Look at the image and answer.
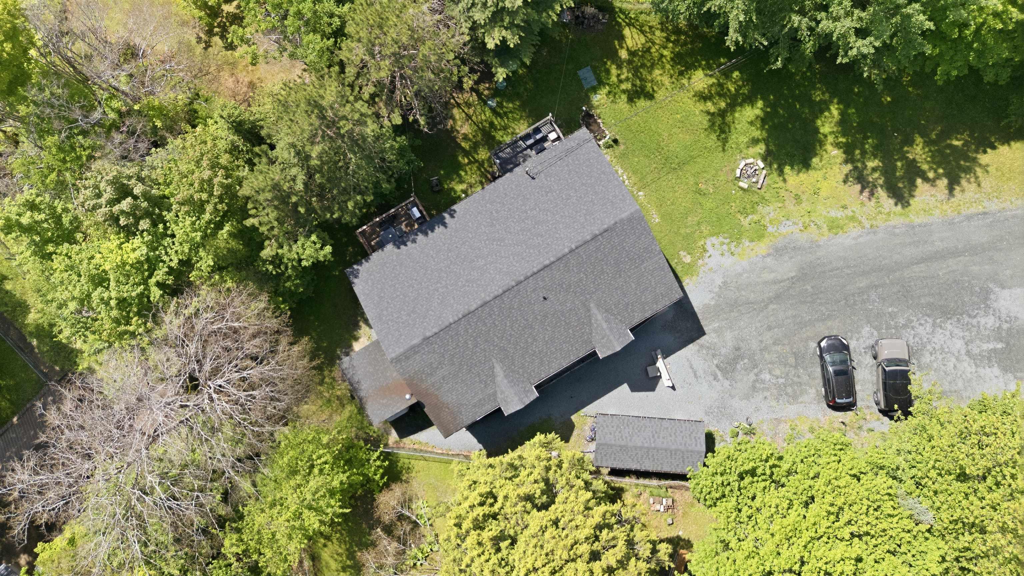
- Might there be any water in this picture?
No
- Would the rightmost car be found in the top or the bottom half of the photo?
bottom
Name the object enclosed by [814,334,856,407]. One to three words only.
car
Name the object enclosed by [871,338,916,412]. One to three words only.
car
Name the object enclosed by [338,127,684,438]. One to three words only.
house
